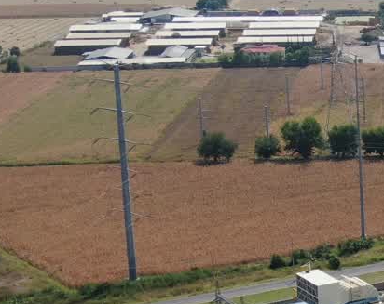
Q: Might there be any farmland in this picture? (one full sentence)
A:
Yes, farmland can be seen from above here.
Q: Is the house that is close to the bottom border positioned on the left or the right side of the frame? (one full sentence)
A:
The house that is close to the bottom border appears in the right half of the scene.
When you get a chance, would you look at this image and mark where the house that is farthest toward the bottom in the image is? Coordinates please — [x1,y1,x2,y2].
[296,268,380,304]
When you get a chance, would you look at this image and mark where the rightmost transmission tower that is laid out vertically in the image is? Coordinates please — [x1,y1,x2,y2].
[350,97,364,134]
